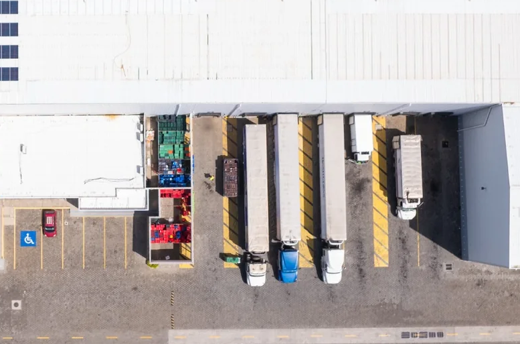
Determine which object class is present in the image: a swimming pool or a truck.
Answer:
truck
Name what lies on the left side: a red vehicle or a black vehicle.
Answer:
red vehicle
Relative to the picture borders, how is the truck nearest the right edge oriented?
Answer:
vertically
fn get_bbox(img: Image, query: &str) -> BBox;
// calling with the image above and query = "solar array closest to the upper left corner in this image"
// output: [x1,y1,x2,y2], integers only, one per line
[0,1,19,14]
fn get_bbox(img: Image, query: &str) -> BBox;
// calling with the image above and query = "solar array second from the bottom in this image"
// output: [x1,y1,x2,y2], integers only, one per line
[0,45,19,59]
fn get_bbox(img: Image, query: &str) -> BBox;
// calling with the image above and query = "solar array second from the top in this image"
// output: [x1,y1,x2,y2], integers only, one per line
[0,22,19,37]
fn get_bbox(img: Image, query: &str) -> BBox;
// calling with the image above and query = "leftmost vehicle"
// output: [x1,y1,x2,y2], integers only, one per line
[41,210,58,239]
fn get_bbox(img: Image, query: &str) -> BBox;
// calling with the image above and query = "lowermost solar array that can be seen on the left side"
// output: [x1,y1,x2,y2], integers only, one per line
[0,67,19,80]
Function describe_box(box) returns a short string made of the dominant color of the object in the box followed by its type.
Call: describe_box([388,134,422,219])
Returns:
white truck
